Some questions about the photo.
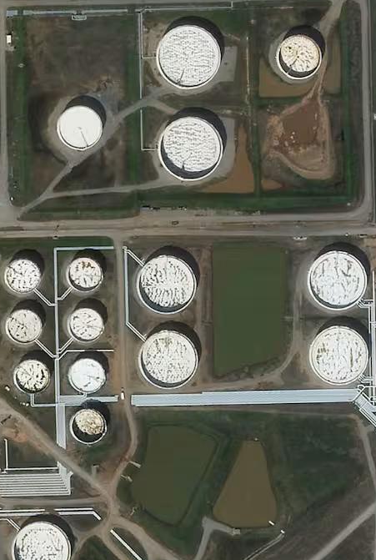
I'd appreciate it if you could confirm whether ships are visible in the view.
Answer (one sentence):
No, no ship is visible in the scene.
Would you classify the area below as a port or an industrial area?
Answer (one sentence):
This looks like an industrial area.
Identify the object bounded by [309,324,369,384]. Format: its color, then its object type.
white storage tank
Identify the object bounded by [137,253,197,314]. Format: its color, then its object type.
white storage tank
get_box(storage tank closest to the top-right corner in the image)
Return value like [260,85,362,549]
[277,34,324,80]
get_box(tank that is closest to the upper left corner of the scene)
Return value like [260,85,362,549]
[57,105,104,152]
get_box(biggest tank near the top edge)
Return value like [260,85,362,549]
[156,24,222,90]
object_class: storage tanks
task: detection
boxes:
[156,24,222,90]
[137,253,197,314]
[70,357,107,393]
[139,327,199,389]
[71,407,107,444]
[66,255,105,293]
[309,324,369,384]
[277,34,324,80]
[158,115,224,181]
[6,258,42,294]
[13,521,72,560]
[6,307,43,343]
[57,105,104,152]
[14,358,51,395]
[308,250,368,310]
[68,307,105,343]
